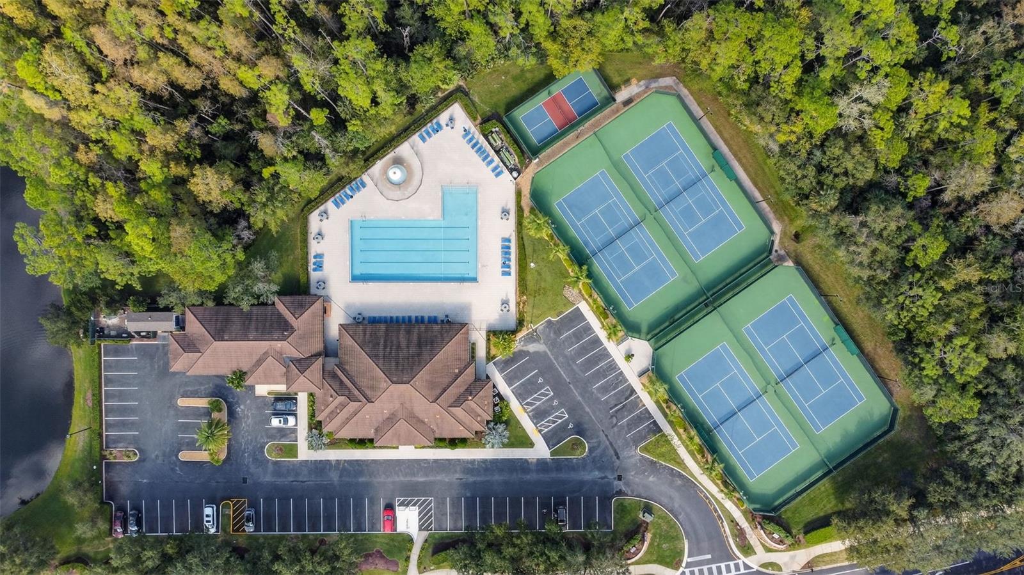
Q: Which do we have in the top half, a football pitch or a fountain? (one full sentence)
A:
It is a fountain that can be seen in the top half.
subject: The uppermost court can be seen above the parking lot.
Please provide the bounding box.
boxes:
[508,70,614,154]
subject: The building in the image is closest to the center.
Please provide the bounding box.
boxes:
[316,323,492,446]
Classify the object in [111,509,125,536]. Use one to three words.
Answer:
car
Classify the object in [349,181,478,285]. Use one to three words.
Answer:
swimming pool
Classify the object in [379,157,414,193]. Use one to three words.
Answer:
fountain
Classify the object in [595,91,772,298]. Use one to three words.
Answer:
tennis court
